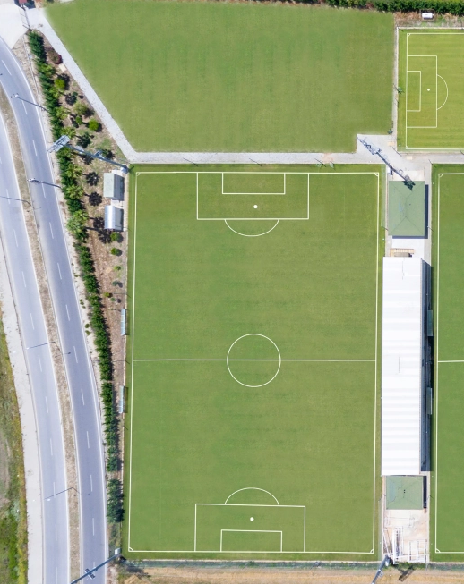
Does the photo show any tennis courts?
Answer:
No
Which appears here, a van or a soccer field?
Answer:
soccer field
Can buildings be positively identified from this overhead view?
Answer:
Yes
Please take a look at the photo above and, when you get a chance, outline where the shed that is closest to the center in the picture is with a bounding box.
[105,206,124,231]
